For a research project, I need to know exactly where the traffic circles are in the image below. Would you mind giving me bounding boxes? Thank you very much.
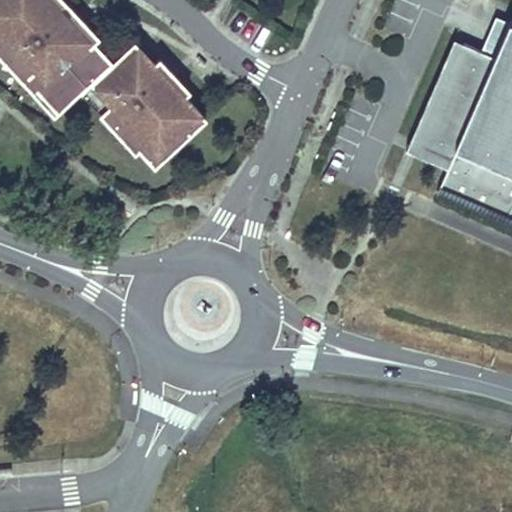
[126,238,279,391]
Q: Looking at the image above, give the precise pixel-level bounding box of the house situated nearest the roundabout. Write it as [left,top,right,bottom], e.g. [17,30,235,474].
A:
[88,44,208,172]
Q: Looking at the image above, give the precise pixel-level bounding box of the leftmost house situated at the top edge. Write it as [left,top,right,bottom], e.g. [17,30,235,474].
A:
[0,0,111,119]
